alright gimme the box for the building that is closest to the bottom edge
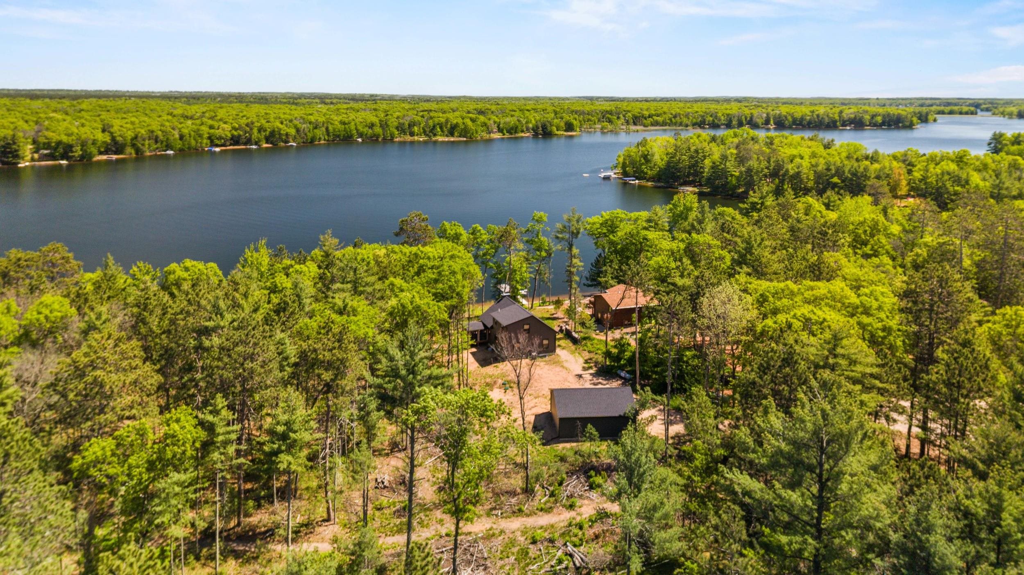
[546,384,637,441]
